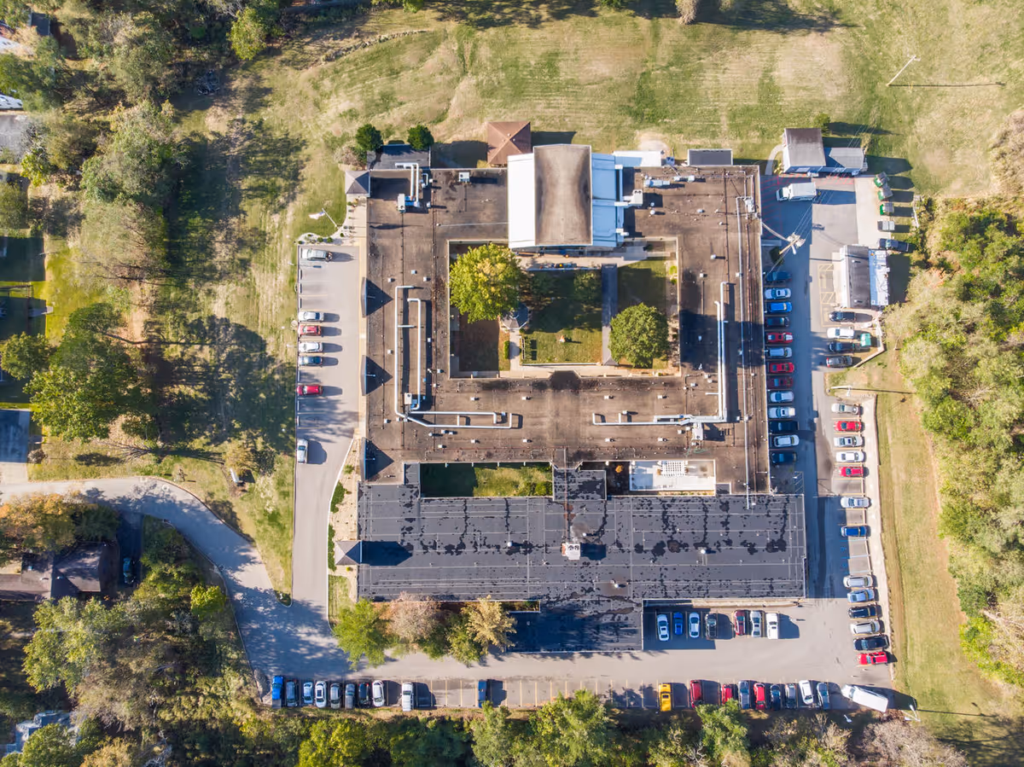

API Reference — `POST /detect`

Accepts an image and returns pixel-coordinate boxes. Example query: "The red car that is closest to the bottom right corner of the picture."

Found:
[858,651,886,666]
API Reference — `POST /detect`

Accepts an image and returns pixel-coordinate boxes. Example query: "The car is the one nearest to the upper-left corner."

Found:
[303,248,333,260]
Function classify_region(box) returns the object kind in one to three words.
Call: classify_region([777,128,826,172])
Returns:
shed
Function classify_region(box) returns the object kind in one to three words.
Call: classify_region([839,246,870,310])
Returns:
building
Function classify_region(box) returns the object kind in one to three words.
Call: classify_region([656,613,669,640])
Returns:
vehicle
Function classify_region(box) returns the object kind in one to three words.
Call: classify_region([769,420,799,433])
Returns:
vehicle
